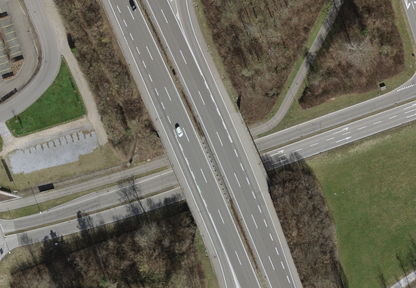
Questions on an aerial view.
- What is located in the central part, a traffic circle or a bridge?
bridge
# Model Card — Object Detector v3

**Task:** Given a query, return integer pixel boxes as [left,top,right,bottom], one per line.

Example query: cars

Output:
[130,0,137,10]
[176,127,183,138]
